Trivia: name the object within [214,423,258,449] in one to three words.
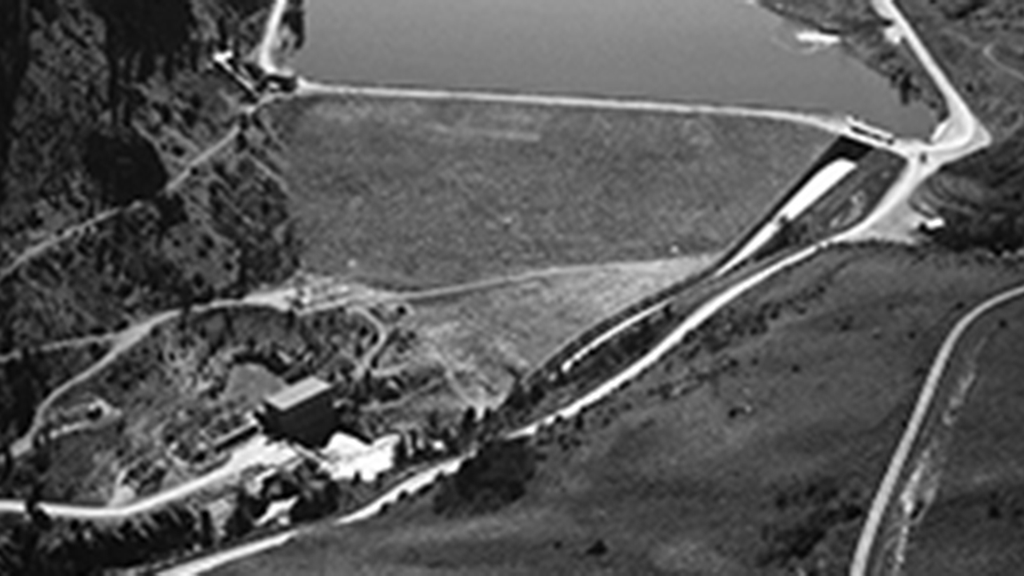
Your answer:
shed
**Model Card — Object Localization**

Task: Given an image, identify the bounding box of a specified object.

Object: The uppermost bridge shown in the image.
[834,126,898,155]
